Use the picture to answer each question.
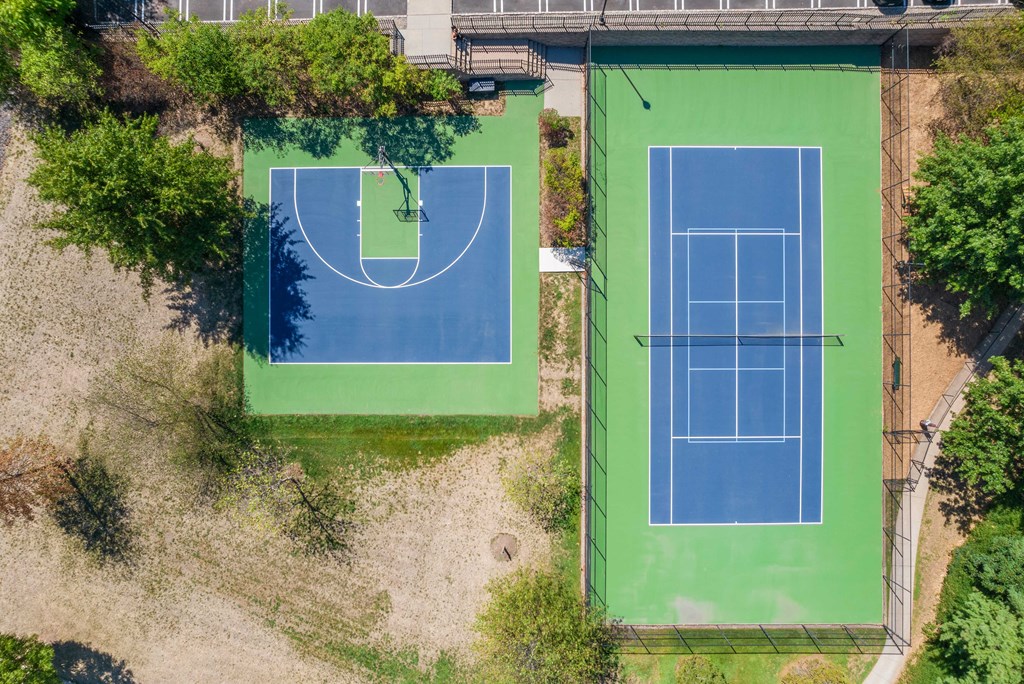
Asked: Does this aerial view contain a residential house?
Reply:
No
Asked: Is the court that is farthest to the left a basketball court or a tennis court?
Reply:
basketball court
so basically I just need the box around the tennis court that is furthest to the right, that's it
[585,46,882,624]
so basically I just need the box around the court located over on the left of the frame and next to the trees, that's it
[243,82,545,415]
